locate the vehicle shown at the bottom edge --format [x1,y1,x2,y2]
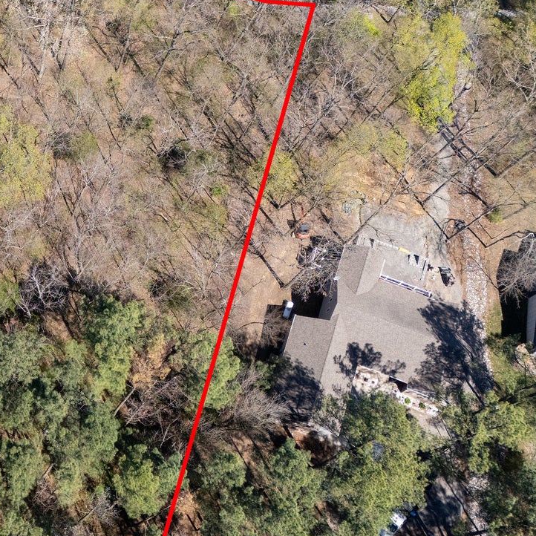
[375,507,414,536]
